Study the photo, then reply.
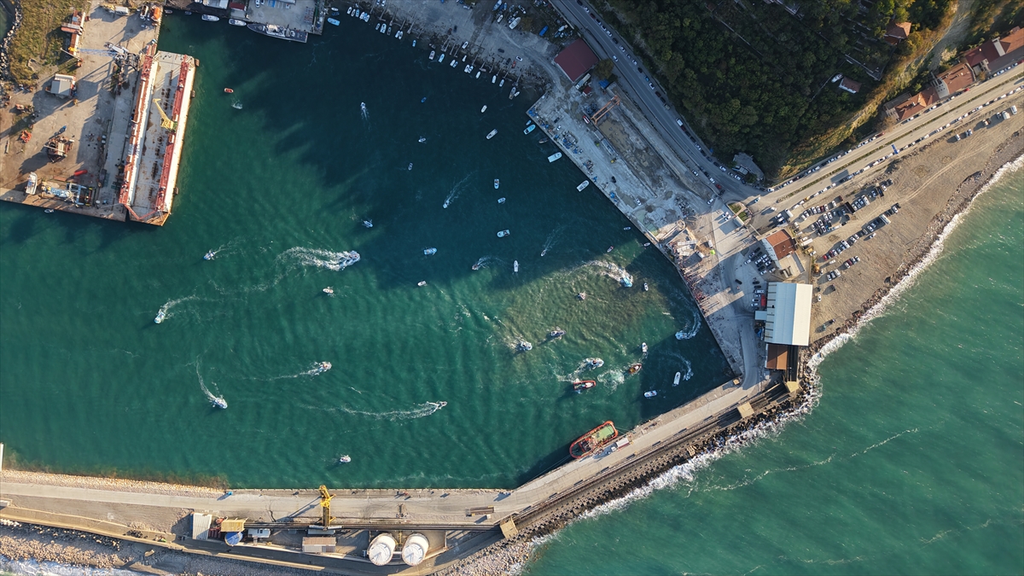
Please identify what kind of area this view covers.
port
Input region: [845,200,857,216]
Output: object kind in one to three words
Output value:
vehicle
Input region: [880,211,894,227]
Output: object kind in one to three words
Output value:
vehicle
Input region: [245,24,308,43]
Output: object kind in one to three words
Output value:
ship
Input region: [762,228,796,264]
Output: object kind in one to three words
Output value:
building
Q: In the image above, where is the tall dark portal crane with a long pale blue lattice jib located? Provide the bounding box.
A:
[78,46,140,71]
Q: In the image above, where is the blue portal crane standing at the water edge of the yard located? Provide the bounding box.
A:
[43,183,88,208]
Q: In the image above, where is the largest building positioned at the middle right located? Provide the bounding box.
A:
[764,282,813,346]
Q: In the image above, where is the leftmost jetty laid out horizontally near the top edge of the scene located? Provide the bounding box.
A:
[229,0,327,37]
